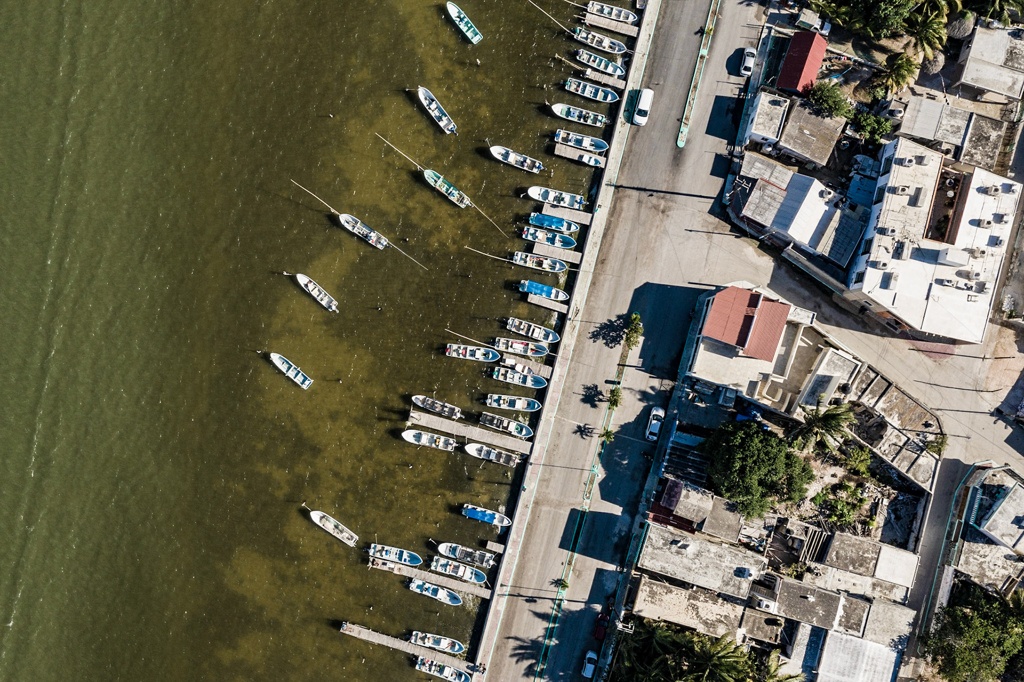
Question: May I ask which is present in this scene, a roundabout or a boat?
boat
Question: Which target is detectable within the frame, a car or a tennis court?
car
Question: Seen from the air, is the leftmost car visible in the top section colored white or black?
white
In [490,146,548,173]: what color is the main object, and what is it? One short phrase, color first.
white boat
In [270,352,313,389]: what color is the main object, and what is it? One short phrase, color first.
white boat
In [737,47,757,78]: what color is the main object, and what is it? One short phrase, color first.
white car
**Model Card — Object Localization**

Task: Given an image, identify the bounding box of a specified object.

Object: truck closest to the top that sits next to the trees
[796,8,831,38]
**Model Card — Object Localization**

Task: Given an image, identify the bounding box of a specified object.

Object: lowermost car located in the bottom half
[579,648,596,680]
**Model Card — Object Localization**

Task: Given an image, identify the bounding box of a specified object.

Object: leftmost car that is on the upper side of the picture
[633,88,653,126]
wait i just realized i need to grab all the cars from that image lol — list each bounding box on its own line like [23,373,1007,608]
[579,648,596,680]
[591,611,609,642]
[737,47,757,78]
[633,88,653,126]
[644,406,664,442]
